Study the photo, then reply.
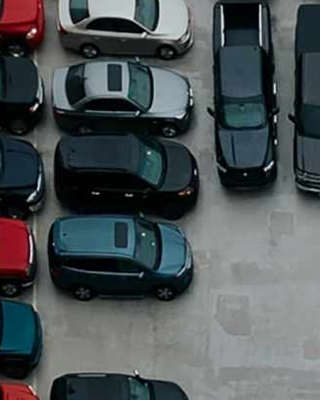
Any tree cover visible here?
No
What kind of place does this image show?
parking lot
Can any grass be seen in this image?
No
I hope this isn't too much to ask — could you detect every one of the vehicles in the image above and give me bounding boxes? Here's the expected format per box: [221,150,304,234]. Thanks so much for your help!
[45,214,196,300]
[289,6,320,196]
[51,130,201,218]
[0,133,49,217]
[48,371,190,400]
[0,58,46,135]
[0,222,40,297]
[55,0,196,59]
[0,303,44,378]
[0,0,46,58]
[49,53,196,136]
[208,2,279,190]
